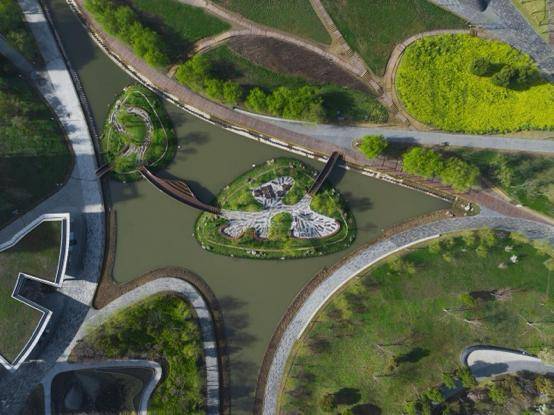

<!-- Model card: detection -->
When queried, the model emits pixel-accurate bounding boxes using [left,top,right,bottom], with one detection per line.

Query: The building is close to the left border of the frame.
[0,213,77,370]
